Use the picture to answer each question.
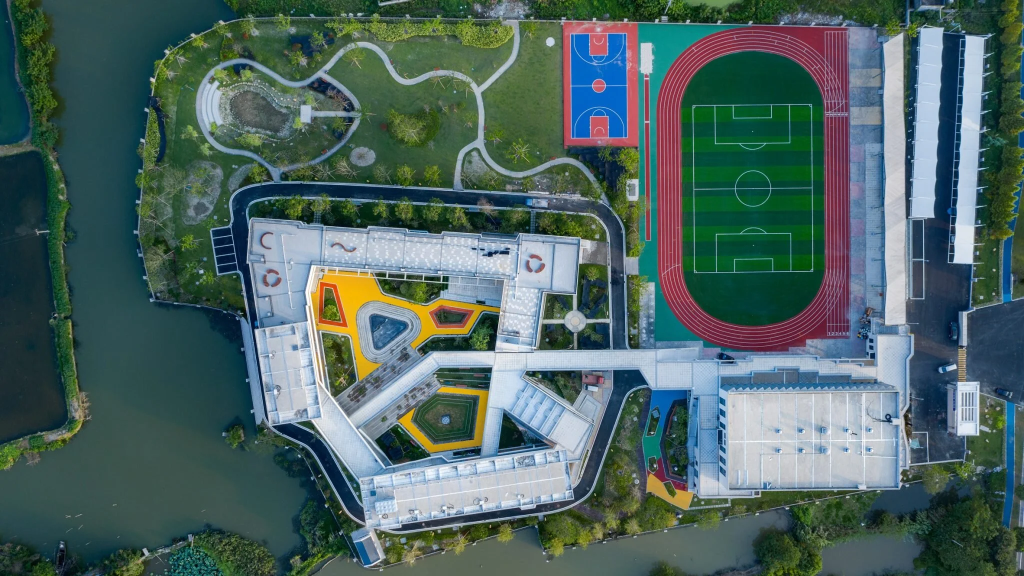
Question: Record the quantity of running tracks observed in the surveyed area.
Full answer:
The photo contains exactly 1 running track.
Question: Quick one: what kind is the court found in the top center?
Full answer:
Looking closely, the court found in the top center is a basketball court.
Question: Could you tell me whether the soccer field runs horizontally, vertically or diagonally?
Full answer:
I'd say the soccer field is aligned vertically in the picture.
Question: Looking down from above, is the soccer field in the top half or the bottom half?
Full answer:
The soccer field is in the top half of the image.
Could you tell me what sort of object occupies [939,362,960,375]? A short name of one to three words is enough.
vehicle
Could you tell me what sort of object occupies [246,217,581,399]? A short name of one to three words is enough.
building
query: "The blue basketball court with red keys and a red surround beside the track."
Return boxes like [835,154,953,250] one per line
[564,23,639,146]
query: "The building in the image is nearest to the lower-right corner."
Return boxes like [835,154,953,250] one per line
[947,382,980,435]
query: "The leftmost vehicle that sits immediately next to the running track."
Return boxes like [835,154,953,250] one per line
[718,351,736,363]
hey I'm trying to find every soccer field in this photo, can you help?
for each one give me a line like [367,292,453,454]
[682,52,824,326]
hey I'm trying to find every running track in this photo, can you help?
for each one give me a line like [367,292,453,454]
[656,26,850,352]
